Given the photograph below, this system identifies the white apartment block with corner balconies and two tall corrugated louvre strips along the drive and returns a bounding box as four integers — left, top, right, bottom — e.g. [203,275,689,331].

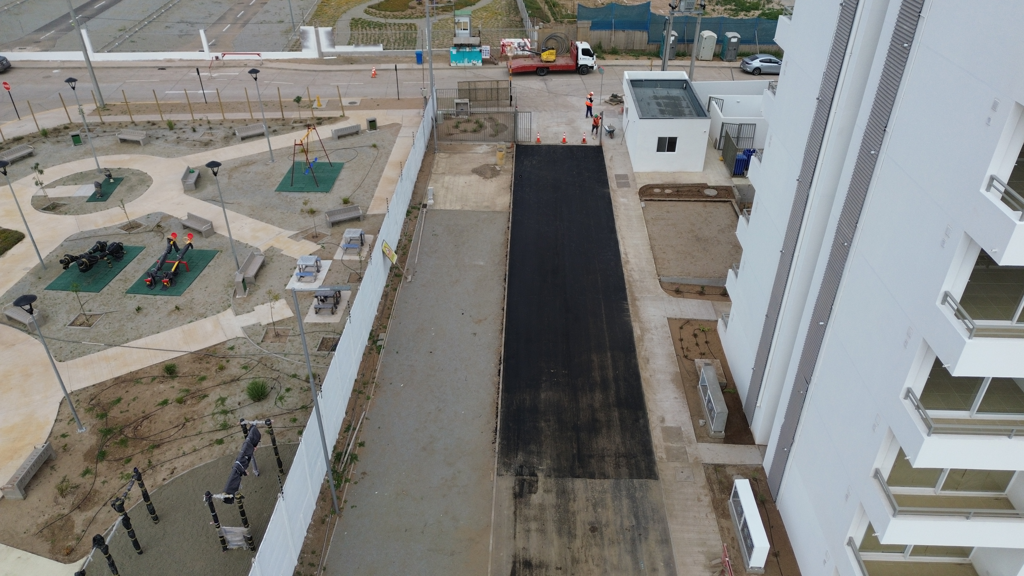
[718,0,1024,576]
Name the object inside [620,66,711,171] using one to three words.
building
